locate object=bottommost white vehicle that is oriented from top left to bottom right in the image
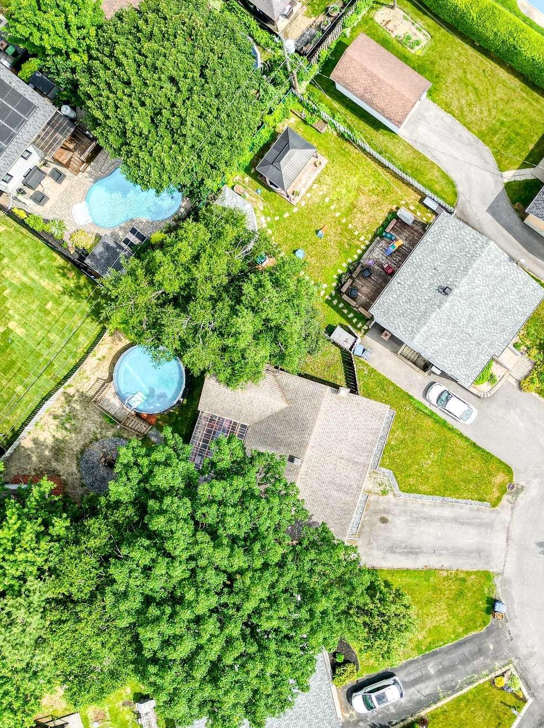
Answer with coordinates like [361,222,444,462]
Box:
[423,379,480,426]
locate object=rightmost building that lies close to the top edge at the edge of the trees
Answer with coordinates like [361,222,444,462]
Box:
[329,33,432,137]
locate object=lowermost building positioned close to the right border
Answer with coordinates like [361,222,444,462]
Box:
[368,210,544,389]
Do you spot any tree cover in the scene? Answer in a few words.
Yes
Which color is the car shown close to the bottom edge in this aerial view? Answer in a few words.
white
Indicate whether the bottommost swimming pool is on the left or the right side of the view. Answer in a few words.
left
